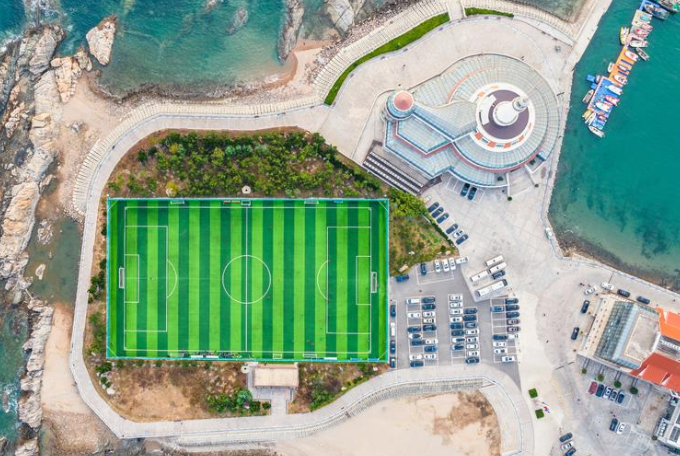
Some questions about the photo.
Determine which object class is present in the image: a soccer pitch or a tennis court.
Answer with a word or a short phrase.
soccer pitch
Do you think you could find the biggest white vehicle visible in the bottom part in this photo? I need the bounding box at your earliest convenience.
[474,279,507,296]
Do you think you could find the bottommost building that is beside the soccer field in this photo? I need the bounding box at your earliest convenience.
[249,362,299,417]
